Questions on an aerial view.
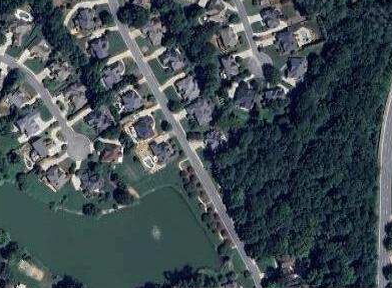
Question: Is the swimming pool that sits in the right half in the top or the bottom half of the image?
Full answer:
You can find the swimming pool that sits in the right half in the top half.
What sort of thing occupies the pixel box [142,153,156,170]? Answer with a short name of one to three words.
swimming pool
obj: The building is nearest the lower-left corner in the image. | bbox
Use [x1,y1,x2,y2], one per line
[42,159,70,192]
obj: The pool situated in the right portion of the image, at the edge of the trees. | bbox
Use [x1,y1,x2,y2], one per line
[293,22,316,48]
